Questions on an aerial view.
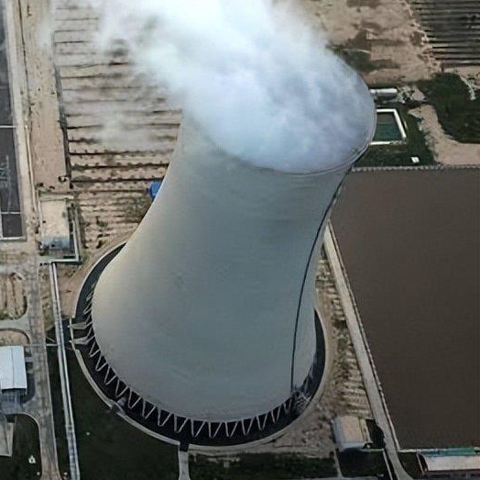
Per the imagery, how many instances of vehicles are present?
0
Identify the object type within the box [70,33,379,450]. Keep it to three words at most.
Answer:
cooling tower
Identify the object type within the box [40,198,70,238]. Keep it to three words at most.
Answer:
house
